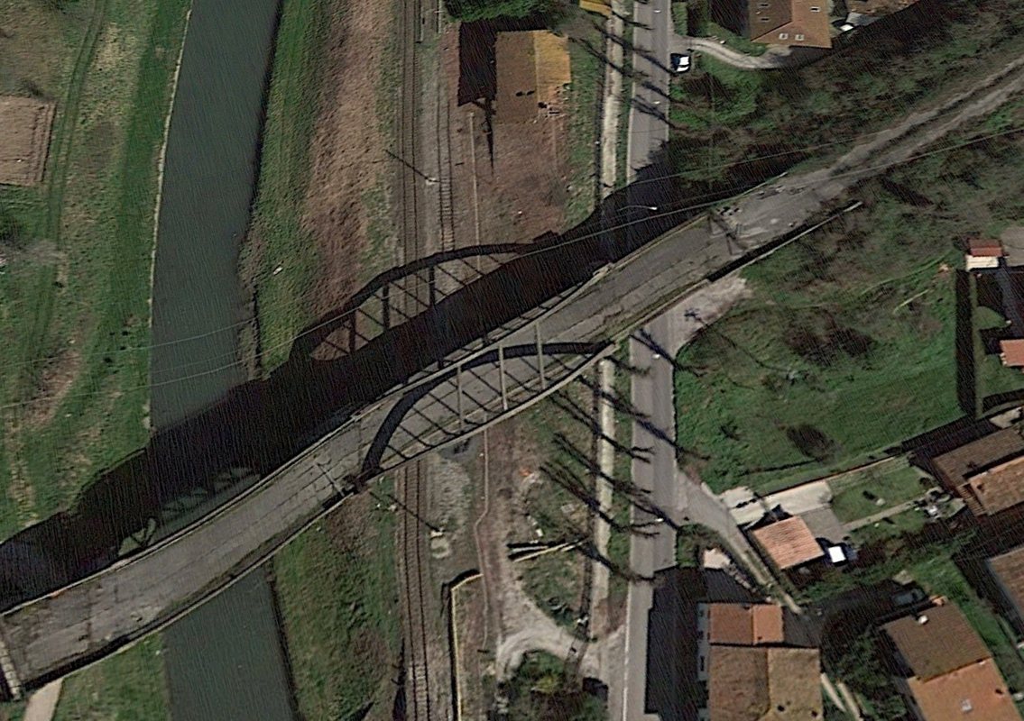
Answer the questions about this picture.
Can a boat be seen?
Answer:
No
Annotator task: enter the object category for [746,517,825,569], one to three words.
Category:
building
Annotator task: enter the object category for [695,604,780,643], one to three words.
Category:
house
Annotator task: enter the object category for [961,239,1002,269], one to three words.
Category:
shed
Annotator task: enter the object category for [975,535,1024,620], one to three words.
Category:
house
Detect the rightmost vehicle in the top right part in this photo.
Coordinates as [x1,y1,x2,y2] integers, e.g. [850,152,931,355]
[832,17,859,34]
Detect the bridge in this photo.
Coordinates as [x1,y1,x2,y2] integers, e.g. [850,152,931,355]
[0,213,717,710]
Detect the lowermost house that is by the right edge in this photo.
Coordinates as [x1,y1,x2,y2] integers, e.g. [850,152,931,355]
[867,599,1024,721]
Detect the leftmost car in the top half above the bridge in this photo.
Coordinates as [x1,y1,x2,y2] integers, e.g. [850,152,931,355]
[676,51,693,74]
